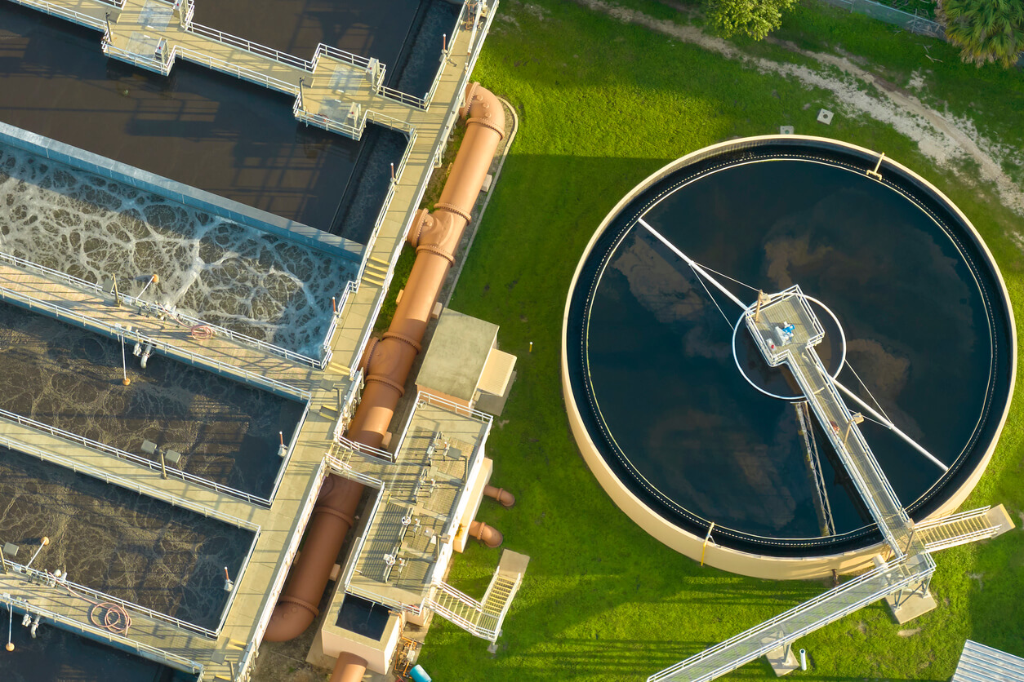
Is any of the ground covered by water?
Yes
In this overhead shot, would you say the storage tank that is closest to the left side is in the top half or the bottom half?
bottom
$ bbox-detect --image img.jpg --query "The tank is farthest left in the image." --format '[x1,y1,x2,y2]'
[322,535,400,682]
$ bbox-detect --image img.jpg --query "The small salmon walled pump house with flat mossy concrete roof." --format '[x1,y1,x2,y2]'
[416,308,517,418]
